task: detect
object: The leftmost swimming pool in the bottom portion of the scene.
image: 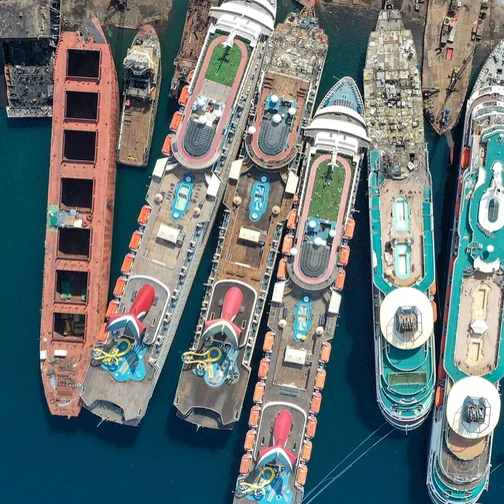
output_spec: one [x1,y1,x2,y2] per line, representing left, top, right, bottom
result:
[293,289,313,340]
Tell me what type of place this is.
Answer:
port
